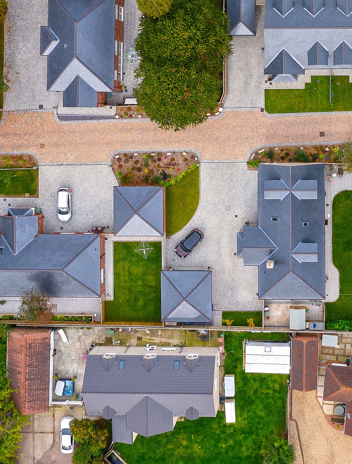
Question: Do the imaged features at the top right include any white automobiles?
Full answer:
No, I can find no white automobile at the top right.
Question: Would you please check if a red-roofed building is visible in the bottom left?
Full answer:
Yes, I can see a red-roofed building in the bottom left.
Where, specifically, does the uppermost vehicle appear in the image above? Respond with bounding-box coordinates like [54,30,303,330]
[55,188,73,221]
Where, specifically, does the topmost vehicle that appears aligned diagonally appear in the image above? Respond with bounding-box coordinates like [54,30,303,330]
[177,227,203,260]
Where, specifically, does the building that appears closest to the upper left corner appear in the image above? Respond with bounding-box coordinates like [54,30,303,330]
[39,0,125,108]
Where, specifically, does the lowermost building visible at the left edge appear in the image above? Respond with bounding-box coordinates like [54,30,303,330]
[7,327,55,414]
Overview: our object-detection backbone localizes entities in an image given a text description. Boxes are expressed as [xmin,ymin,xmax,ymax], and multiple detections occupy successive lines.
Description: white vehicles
[55,188,73,221]
[58,415,76,454]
